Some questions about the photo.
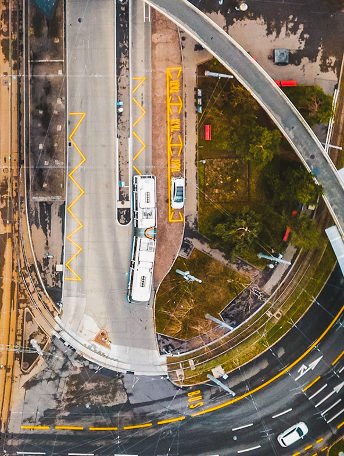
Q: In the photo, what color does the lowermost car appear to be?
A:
white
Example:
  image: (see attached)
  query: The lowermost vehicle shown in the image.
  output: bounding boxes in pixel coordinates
[274,421,309,447]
